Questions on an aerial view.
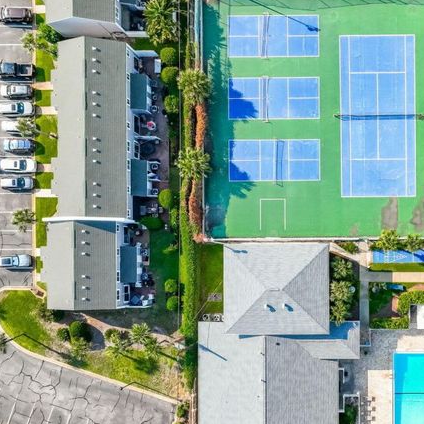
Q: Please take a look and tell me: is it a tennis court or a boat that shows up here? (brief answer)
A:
tennis court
